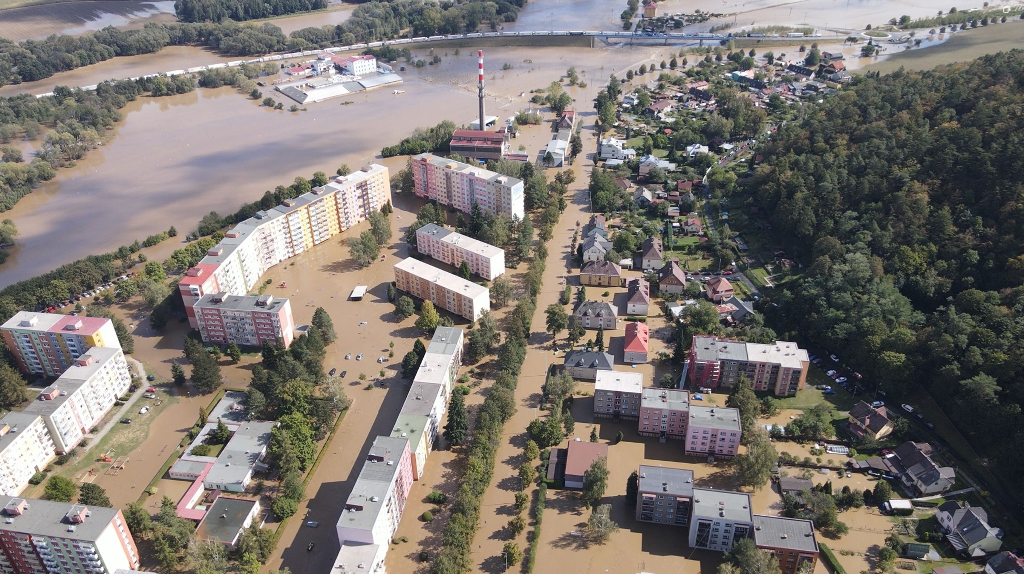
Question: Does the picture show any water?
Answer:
Yes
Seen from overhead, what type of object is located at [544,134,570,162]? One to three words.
barn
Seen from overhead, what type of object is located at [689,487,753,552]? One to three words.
building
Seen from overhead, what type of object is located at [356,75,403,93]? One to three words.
shed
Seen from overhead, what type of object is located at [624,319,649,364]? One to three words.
house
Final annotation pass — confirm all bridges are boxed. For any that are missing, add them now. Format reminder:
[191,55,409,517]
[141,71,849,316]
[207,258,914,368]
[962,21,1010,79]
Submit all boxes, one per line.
[594,34,726,49]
